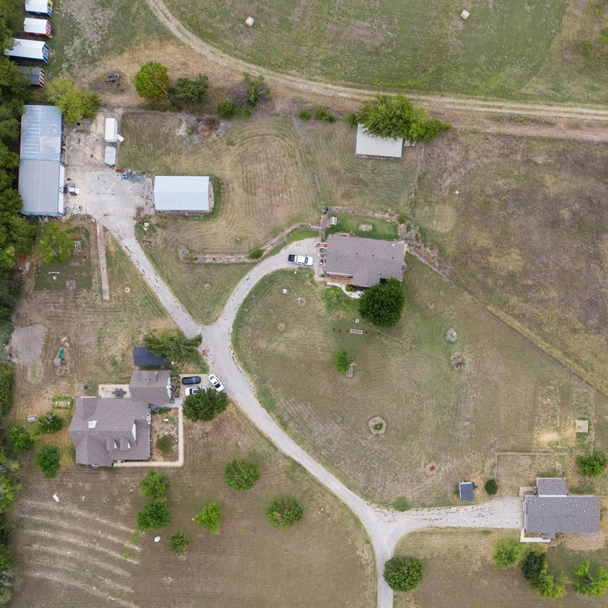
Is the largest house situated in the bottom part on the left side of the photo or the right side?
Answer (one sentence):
The largest house situated in the bottom part is on the left side of the image.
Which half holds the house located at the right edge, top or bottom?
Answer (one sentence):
The house located at the right edge sits in the bottom half of the picture.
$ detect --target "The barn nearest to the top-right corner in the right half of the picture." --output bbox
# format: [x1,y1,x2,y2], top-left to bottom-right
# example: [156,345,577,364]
[356,124,403,160]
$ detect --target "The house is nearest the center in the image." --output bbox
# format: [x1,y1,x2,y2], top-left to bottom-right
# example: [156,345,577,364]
[320,232,406,287]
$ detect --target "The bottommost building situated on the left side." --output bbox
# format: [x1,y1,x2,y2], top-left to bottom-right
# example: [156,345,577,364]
[69,371,173,467]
